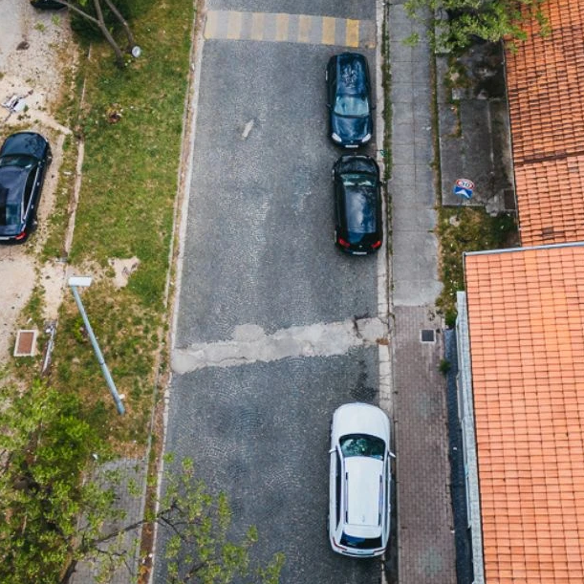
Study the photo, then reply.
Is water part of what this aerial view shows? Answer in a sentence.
No, there is no water in the image.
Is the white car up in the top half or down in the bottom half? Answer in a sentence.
It is in the bottom half that the white car appears.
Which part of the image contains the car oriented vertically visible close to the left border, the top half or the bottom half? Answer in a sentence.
The car oriented vertically visible close to the left border sits in the top half of the picture.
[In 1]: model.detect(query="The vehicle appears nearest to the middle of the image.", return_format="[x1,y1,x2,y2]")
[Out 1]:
[328,150,389,258]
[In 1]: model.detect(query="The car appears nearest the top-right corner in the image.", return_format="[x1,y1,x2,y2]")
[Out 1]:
[325,47,381,149]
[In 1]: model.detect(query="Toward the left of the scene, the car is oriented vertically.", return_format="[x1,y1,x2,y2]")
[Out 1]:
[0,129,50,246]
